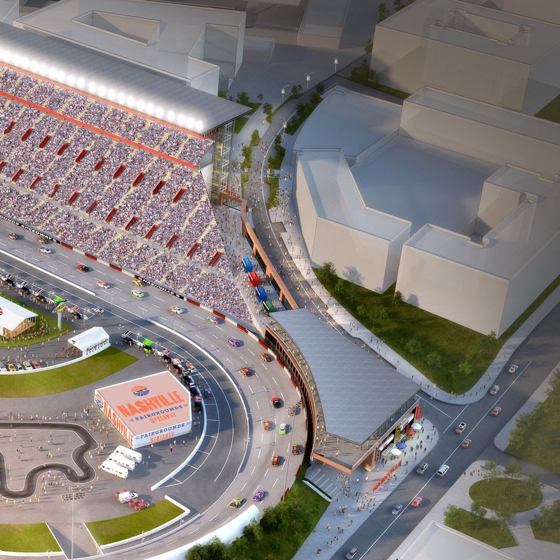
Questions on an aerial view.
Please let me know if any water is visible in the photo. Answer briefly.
No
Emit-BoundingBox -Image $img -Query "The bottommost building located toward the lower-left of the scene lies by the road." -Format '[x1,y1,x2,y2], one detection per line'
[94,368,193,449]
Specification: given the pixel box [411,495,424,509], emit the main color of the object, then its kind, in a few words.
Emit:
red vehicle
